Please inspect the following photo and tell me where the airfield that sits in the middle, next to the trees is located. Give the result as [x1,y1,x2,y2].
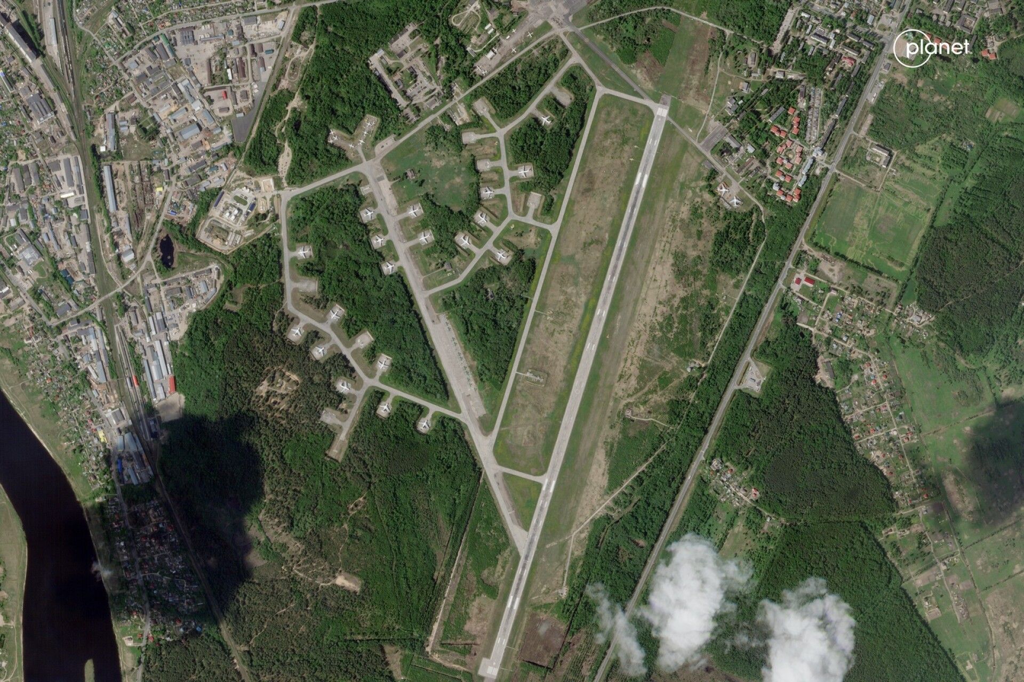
[278,0,739,682]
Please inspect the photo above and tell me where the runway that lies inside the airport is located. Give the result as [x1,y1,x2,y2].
[486,103,669,679]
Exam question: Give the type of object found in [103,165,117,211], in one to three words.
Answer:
building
